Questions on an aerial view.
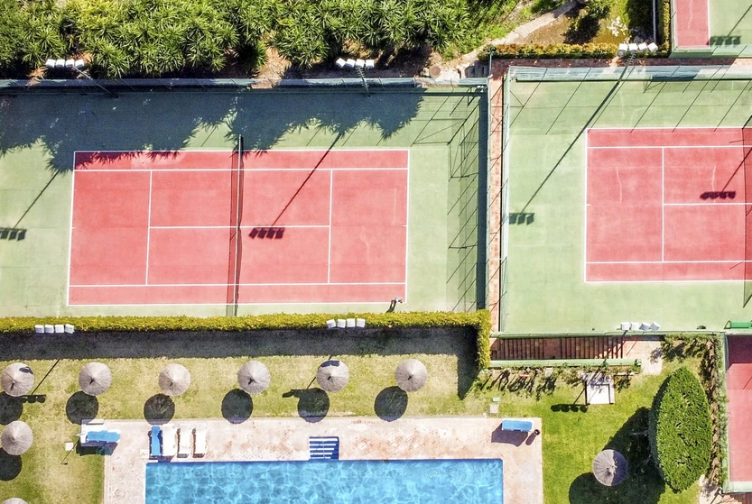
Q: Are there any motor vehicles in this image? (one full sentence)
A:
No, no motor vehicle is visible in the view.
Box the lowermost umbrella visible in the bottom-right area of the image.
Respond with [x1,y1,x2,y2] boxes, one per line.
[592,449,627,485]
